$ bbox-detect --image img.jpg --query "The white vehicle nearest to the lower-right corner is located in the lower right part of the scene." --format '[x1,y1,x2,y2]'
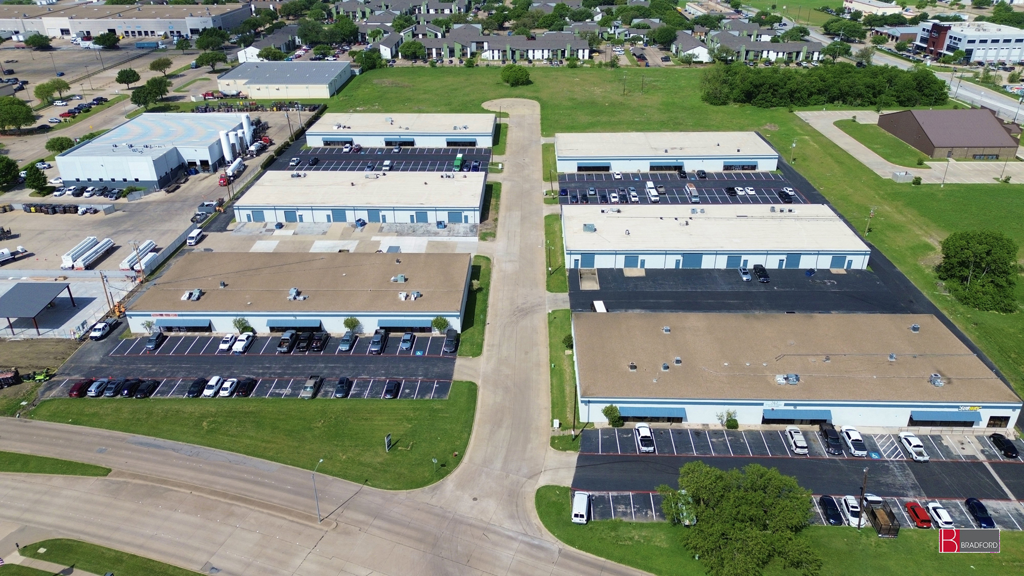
[924,501,959,533]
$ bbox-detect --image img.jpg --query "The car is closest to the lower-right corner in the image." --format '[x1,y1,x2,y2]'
[962,499,997,530]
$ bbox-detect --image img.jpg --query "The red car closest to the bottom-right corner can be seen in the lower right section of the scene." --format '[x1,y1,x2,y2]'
[902,501,936,533]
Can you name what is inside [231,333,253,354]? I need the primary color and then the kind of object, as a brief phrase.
white truck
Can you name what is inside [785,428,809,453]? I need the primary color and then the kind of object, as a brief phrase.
white car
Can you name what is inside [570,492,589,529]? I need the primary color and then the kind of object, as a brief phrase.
white vehicle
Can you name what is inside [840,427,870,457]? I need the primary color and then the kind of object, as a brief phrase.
white truck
